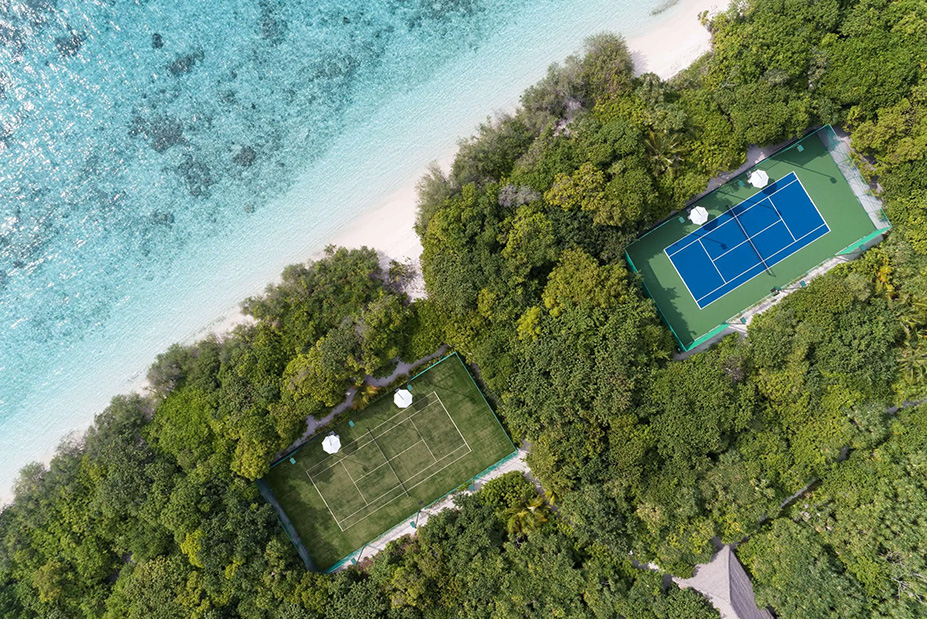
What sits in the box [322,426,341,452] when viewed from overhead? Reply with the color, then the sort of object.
white umbrella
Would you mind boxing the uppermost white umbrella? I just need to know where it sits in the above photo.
[740,169,767,190]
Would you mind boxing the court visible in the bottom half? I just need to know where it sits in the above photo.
[263,353,512,571]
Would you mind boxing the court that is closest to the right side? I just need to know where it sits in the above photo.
[625,133,876,347]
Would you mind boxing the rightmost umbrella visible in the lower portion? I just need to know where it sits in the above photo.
[393,385,414,407]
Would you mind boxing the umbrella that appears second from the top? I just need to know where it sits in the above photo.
[682,205,707,226]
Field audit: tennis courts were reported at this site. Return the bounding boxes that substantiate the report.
[625,133,876,347]
[263,353,512,571]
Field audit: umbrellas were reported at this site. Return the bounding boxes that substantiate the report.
[393,385,414,407]
[322,426,341,452]
[682,205,707,226]
[740,169,767,190]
